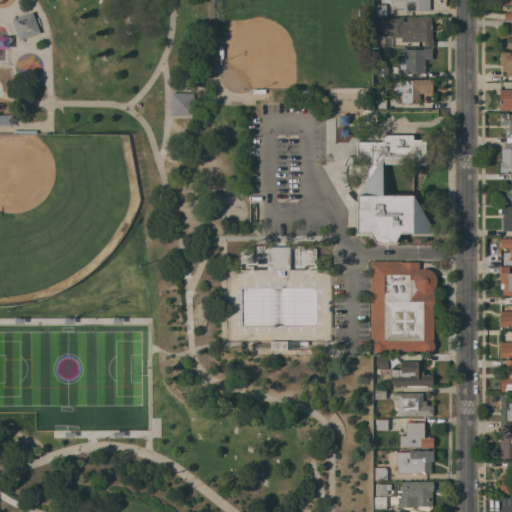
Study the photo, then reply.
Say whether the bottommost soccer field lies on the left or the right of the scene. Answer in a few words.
left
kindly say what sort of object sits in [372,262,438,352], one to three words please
building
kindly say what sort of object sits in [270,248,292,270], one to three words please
building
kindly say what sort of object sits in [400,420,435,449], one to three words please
house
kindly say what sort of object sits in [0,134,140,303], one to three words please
baseball field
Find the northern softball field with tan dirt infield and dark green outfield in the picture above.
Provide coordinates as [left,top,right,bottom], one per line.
[216,0,374,93]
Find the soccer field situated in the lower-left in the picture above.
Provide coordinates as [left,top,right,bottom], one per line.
[0,325,148,432]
